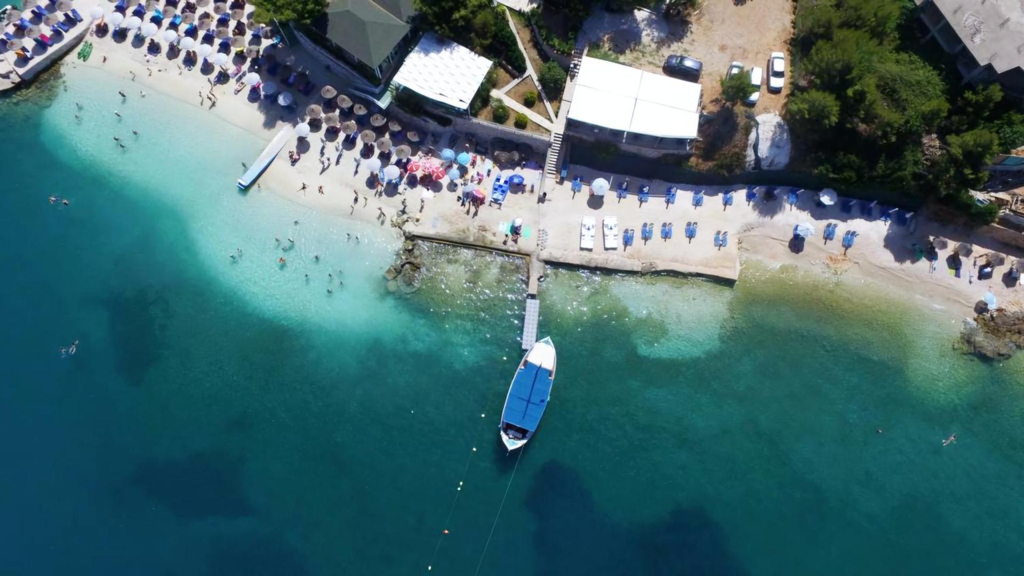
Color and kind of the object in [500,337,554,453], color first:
blue boat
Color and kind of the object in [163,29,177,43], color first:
white umbrella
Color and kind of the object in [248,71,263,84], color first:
white umbrella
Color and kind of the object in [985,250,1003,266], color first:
gray umbrella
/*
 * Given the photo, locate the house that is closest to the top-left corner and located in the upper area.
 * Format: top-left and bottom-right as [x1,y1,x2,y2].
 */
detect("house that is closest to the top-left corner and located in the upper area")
[326,0,415,80]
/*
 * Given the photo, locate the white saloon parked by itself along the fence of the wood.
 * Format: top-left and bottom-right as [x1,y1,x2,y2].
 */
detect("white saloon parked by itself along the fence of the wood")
[767,54,784,91]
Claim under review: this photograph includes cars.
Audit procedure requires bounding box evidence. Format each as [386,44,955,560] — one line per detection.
[725,62,747,95]
[745,66,764,104]
[663,53,704,77]
[767,54,784,91]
